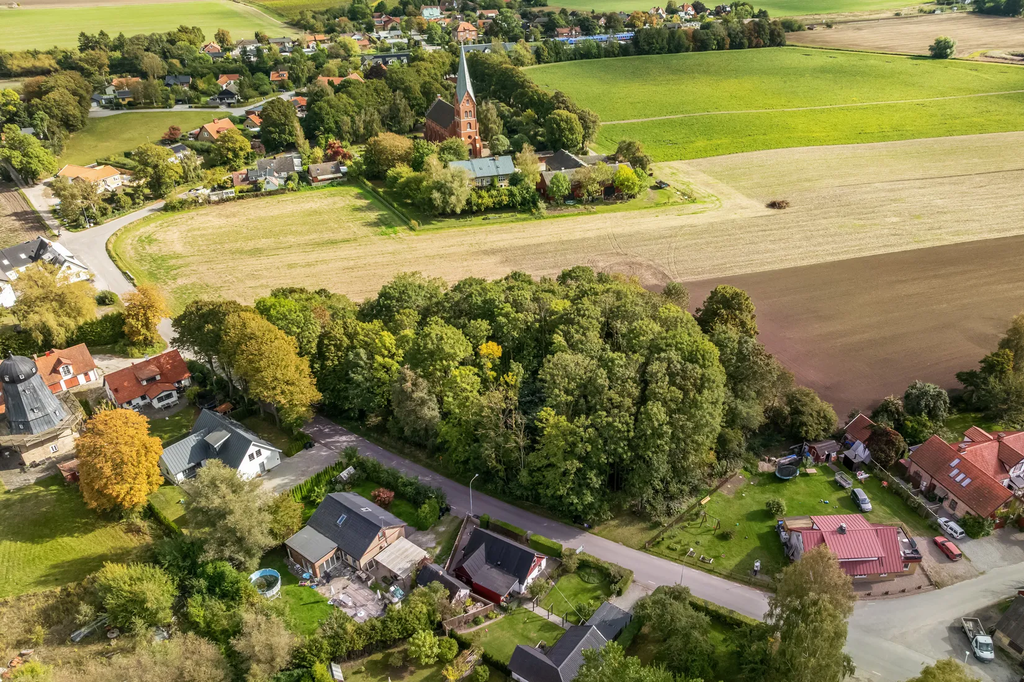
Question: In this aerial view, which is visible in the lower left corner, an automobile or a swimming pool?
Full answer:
It is a swimming pool that can be seen in the lower left corner.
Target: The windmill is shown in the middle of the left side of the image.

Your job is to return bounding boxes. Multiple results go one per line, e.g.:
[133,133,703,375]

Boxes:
[0,344,86,467]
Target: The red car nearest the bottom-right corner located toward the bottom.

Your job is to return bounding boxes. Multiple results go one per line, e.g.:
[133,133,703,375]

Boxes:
[932,537,966,562]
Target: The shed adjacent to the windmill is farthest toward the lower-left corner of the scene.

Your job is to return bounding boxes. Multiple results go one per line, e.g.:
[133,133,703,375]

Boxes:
[58,450,90,485]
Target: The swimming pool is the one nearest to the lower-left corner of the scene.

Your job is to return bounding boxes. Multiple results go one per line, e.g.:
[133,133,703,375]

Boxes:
[250,567,285,600]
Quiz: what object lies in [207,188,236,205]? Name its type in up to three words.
building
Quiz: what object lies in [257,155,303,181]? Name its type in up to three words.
house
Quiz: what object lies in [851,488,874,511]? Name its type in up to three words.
car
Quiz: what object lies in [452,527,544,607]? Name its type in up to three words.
house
